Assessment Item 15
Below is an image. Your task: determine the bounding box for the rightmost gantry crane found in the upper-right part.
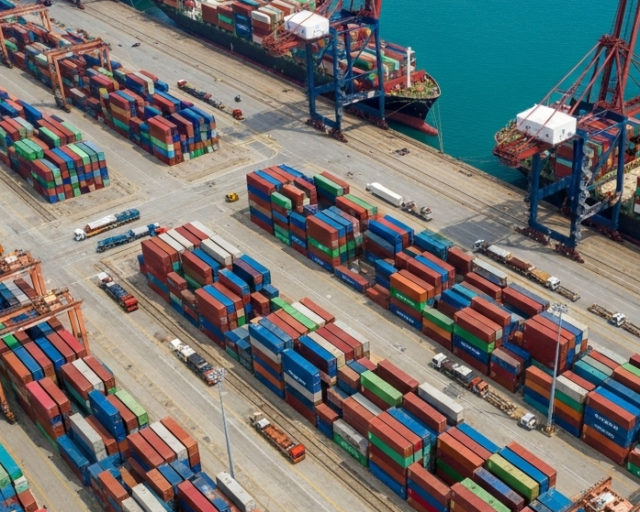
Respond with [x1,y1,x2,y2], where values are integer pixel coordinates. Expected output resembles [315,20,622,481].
[492,0,640,261]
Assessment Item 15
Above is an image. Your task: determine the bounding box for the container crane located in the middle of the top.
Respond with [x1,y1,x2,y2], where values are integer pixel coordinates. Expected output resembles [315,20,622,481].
[260,0,388,141]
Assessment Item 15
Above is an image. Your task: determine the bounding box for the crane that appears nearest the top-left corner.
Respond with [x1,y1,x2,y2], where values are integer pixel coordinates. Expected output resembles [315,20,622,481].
[0,3,56,60]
